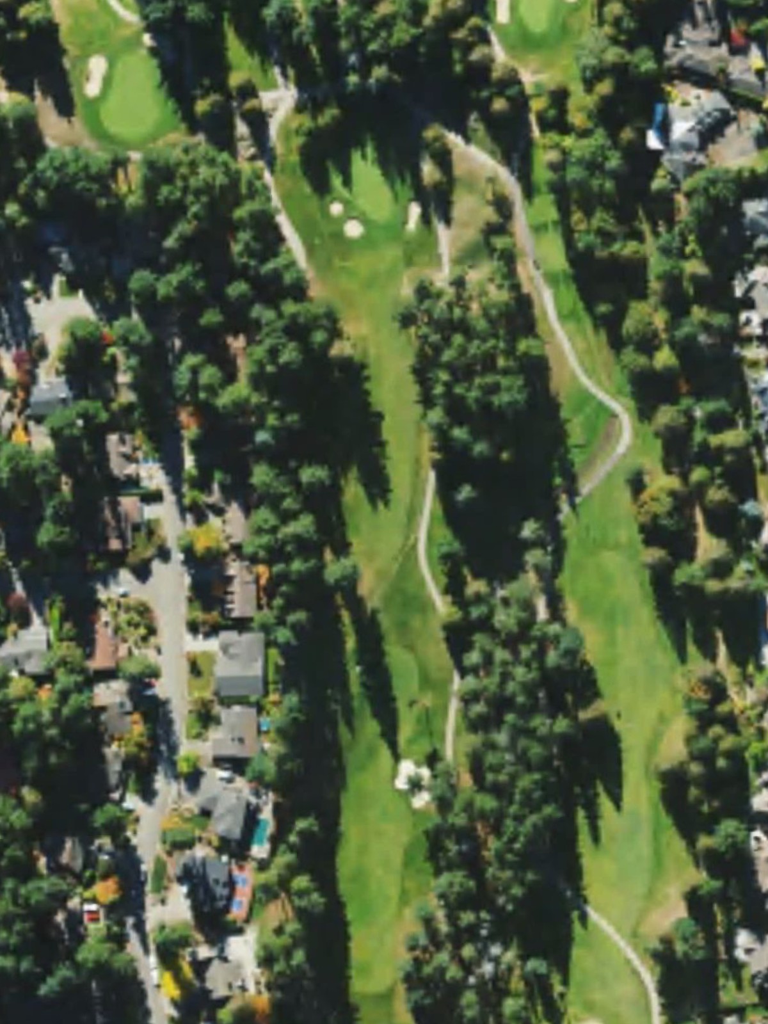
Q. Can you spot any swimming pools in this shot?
Yes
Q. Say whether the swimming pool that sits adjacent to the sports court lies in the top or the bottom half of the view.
bottom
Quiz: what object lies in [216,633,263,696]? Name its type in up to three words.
house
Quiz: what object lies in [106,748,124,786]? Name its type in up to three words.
house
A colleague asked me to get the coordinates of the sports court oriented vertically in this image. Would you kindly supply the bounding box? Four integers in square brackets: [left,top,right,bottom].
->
[231,860,254,922]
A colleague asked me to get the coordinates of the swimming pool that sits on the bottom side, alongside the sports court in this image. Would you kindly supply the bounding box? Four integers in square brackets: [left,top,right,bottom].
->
[251,790,275,859]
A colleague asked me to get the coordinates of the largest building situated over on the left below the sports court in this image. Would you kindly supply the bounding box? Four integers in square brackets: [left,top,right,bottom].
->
[203,959,242,999]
